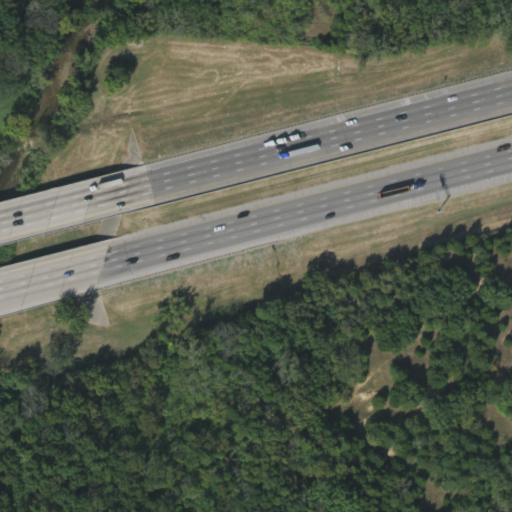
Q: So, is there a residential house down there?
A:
No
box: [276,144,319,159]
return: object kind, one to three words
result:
vehicle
